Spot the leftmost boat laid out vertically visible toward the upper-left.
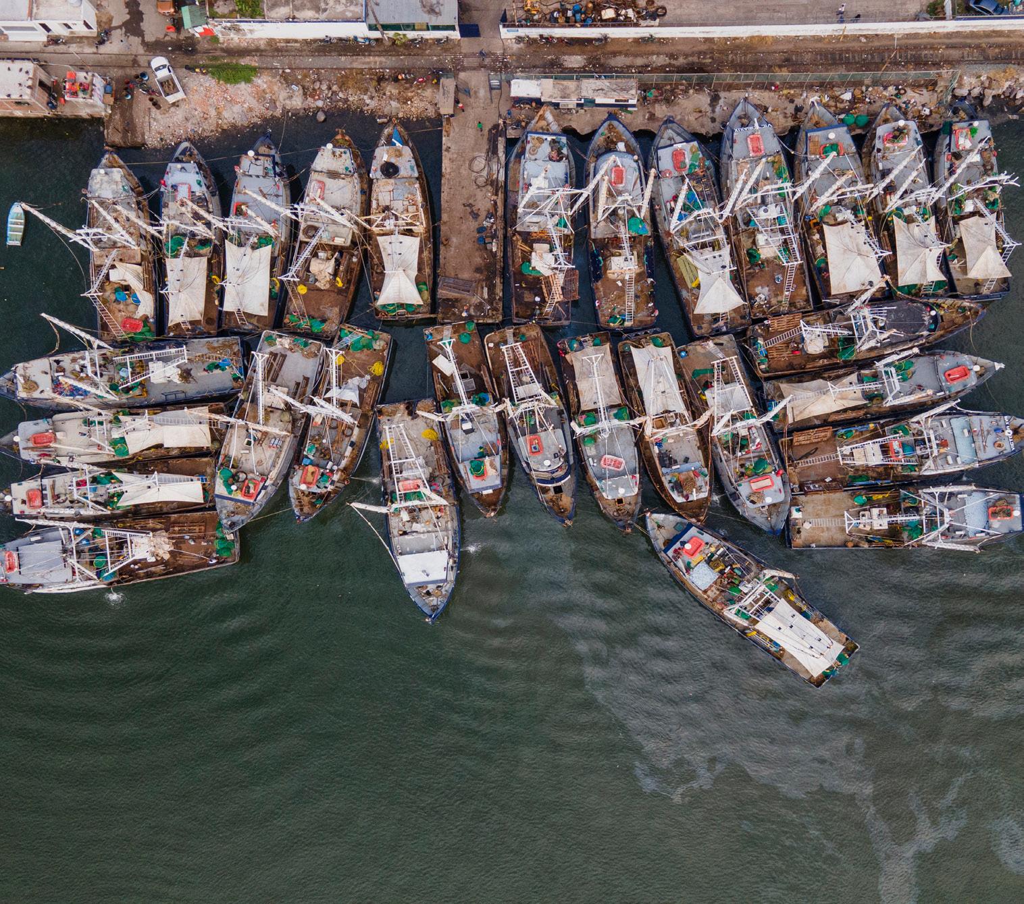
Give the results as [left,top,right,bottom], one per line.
[7,202,26,247]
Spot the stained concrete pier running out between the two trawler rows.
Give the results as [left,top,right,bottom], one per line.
[437,101,505,325]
